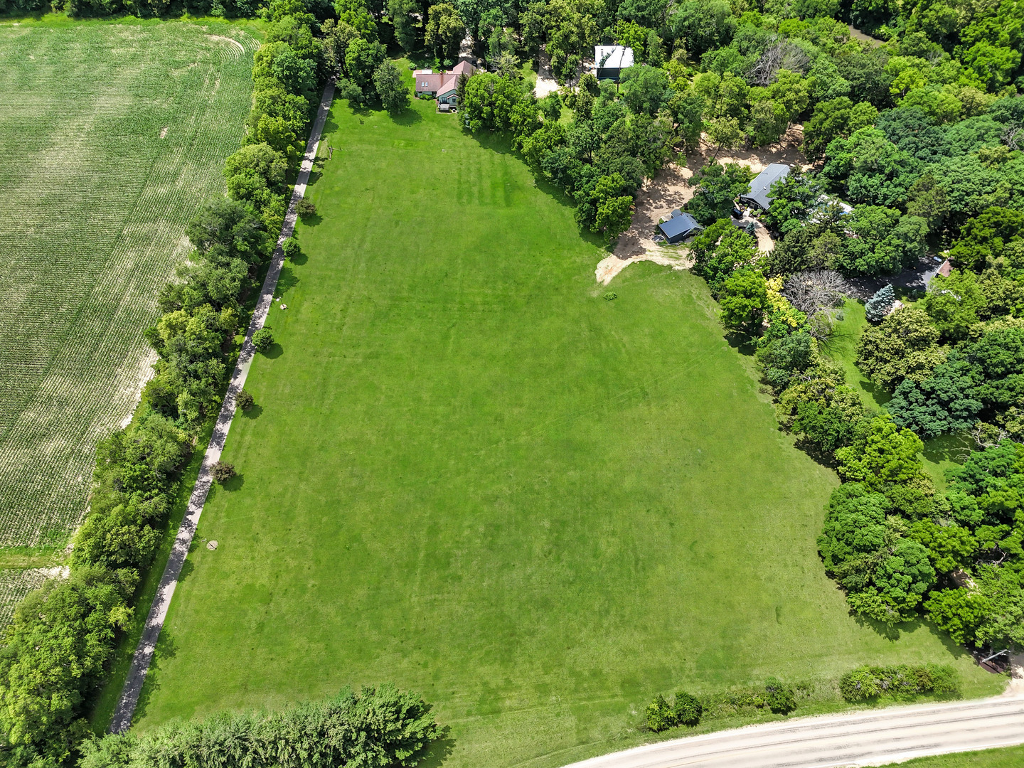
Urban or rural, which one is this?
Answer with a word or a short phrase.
rural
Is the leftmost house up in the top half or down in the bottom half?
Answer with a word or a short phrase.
top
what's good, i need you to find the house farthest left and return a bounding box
[416,60,477,110]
